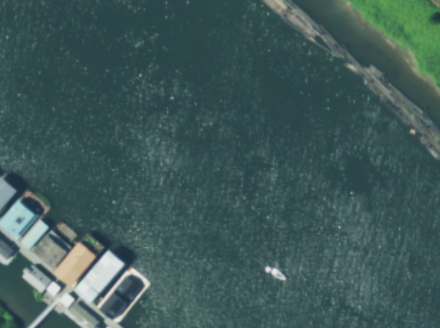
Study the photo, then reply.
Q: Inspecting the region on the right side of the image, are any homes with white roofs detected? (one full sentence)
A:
No, there is no home with a white roof on the right side of the image.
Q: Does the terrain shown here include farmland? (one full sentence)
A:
No, no farmland is visible.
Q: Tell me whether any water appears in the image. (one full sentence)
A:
Yes, there's water in this view.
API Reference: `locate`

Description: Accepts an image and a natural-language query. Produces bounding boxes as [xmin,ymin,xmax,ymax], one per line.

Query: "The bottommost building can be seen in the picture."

[64,300,99,328]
